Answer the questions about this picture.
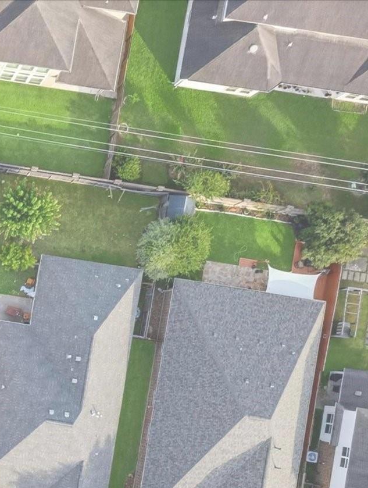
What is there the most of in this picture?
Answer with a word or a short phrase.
buildings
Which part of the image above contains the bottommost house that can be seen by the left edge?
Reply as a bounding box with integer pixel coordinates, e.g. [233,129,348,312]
[0,254,143,488]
